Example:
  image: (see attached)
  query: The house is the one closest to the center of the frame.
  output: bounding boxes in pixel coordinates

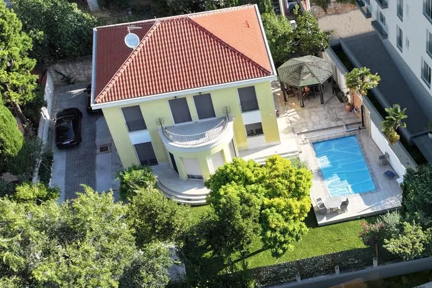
[89,2,277,179]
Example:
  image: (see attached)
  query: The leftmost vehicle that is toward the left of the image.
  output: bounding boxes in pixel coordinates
[53,100,81,146]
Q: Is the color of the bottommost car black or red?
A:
black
